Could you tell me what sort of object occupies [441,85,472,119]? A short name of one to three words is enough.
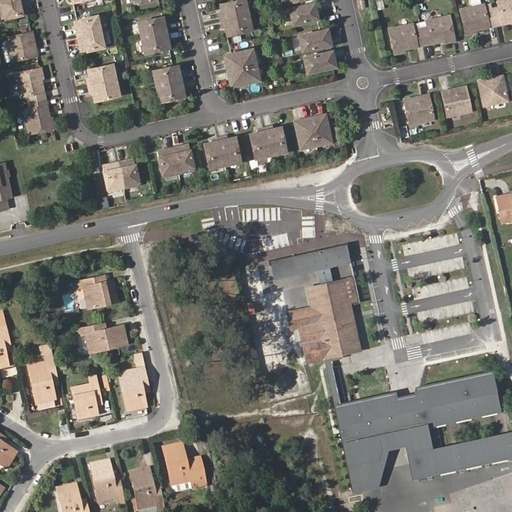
house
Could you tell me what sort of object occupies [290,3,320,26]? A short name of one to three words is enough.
house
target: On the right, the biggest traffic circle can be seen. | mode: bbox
[341,152,455,228]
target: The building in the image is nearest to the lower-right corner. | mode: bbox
[326,360,512,494]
